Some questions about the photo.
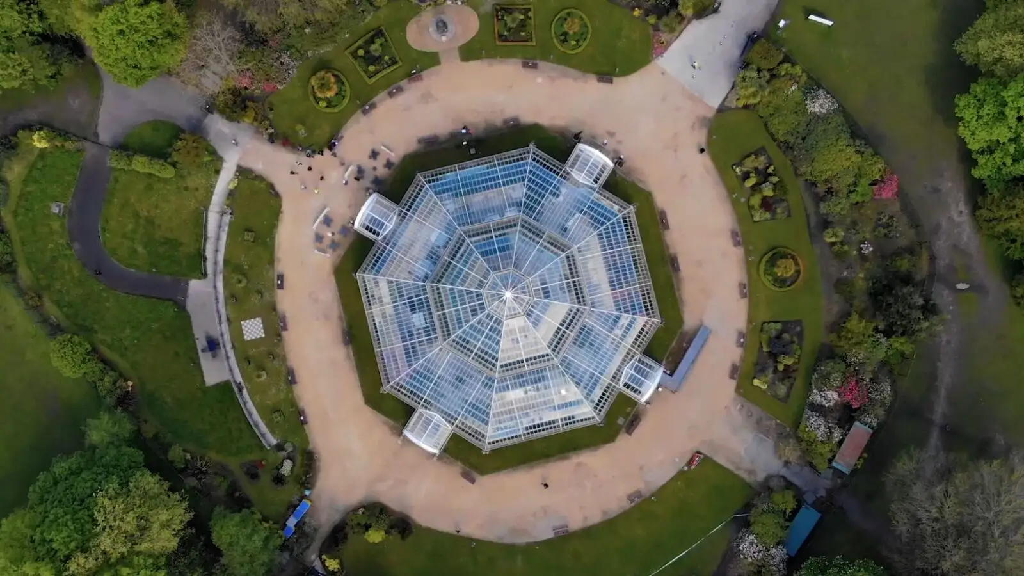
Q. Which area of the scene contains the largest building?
center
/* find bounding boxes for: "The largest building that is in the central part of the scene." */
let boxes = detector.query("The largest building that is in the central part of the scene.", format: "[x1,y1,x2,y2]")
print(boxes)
[352,142,667,458]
